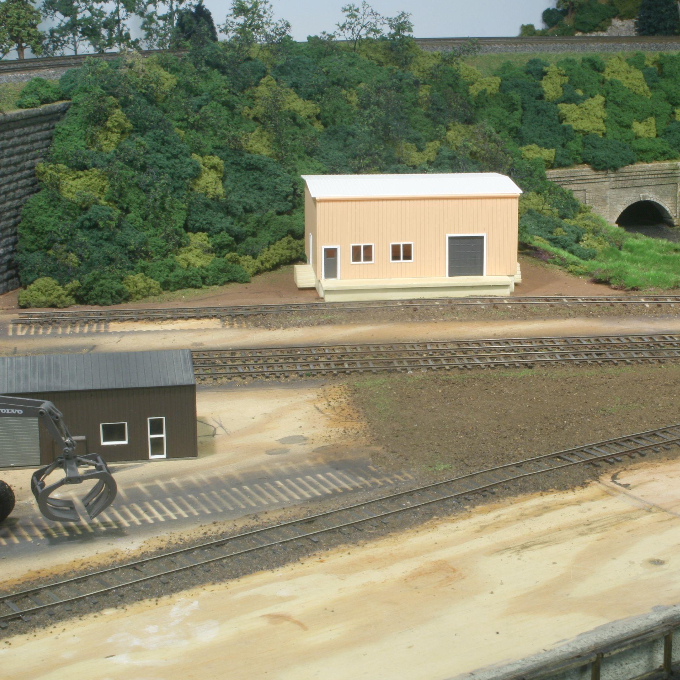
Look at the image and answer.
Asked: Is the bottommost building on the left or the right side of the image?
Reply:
left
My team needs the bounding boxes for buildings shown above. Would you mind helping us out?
[296,172,523,302]
[0,344,199,471]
